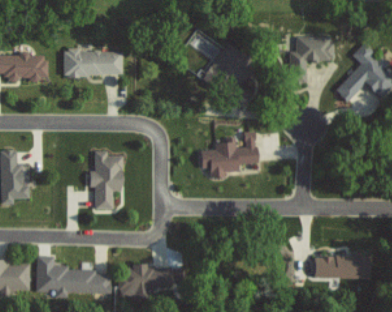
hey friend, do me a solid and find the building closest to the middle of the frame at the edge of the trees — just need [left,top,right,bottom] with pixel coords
[202,132,259,180]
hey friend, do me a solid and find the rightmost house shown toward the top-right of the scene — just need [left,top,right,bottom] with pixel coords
[337,44,392,102]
